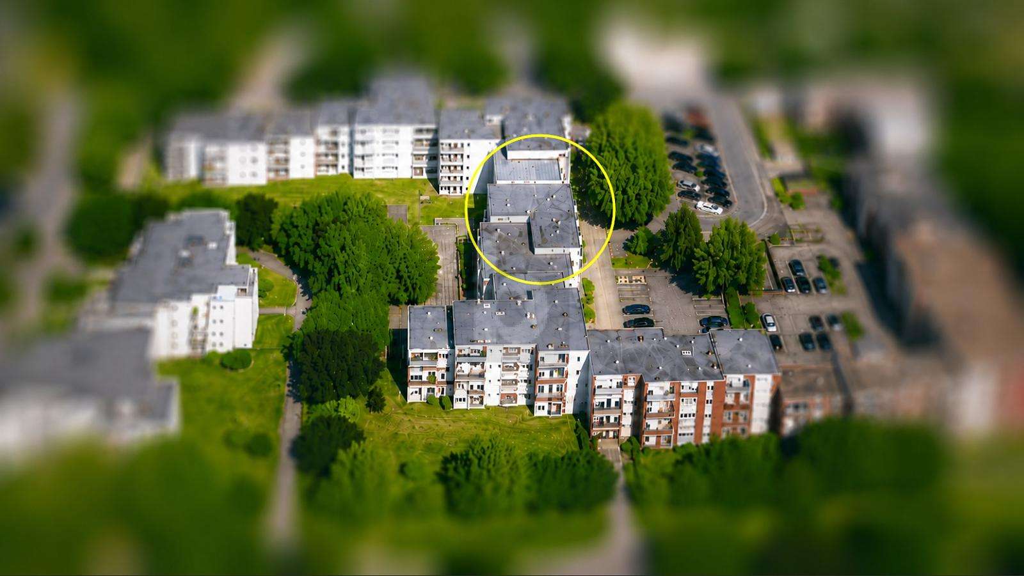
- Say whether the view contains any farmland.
No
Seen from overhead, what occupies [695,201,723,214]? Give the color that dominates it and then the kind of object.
white vehicle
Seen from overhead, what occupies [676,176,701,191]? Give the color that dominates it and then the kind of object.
gray car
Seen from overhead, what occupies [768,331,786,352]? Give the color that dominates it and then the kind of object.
black car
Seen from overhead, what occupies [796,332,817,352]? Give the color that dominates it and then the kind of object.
black car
